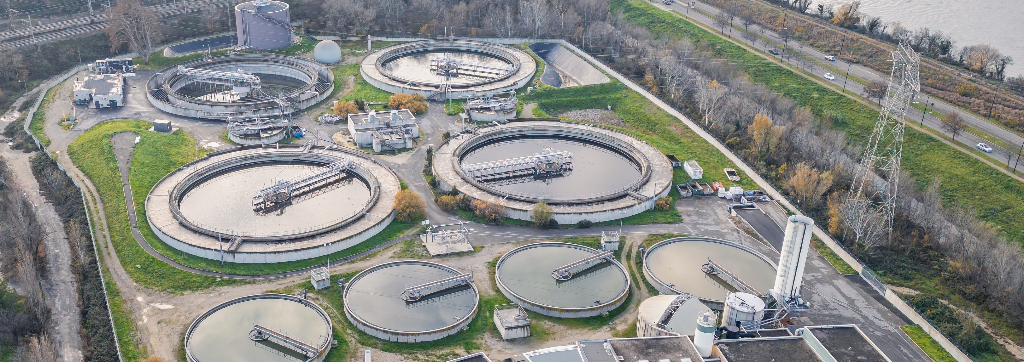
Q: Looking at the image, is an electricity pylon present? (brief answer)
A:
Yes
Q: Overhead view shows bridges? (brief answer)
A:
Yes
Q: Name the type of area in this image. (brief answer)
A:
industrial area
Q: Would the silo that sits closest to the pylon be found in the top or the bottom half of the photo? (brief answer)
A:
bottom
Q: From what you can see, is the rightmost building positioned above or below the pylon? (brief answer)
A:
below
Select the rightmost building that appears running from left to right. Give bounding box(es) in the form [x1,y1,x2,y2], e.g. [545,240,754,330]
[803,325,892,362]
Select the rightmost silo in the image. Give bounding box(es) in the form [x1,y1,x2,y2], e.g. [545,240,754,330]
[769,215,820,326]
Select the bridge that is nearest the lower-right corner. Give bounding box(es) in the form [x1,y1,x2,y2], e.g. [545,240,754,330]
[697,258,759,296]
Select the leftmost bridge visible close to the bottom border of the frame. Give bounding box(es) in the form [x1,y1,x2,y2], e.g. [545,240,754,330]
[247,319,318,356]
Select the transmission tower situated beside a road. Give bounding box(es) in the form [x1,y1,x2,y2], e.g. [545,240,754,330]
[846,34,922,247]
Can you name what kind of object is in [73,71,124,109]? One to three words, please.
building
